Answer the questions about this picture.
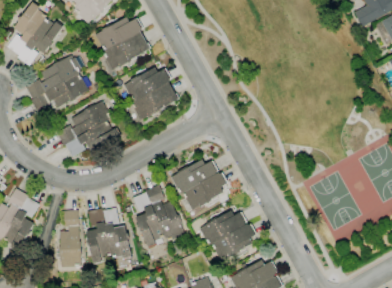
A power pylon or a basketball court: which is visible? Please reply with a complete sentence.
Looking from above, you can make out a basketball court.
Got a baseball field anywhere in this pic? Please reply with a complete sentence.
No, there appears to be no baseball field in this shot.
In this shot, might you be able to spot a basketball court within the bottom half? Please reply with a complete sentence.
Yes, a basketball court can be seen within the bottom half.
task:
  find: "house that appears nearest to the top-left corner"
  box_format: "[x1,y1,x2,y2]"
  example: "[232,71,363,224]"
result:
[8,1,64,65]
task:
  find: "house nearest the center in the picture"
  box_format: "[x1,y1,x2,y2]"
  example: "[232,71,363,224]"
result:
[173,157,228,210]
